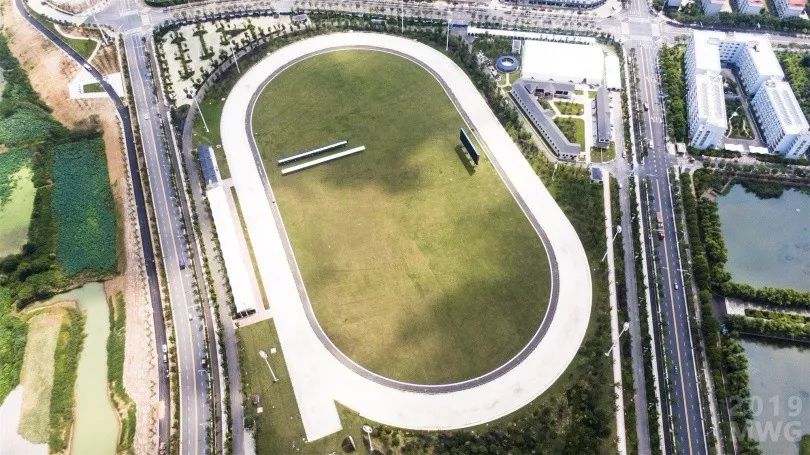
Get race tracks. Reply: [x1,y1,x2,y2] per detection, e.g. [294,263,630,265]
[211,28,603,442]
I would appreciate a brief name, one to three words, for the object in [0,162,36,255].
pond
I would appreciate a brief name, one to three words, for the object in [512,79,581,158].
building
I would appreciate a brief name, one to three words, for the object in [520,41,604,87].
building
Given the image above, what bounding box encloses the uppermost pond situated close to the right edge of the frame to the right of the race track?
[717,184,810,293]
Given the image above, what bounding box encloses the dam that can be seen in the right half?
[713,295,810,333]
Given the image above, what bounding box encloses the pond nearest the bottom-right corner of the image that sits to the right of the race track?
[731,328,810,455]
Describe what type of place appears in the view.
sports ground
